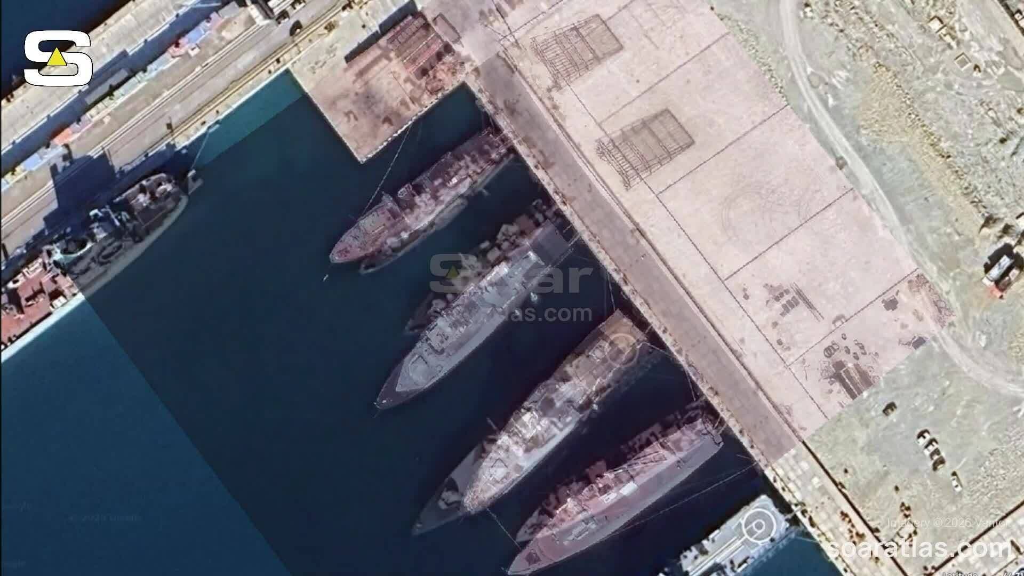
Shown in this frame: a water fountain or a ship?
ship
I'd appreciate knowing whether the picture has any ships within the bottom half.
Yes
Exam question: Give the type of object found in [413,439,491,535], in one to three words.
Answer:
boat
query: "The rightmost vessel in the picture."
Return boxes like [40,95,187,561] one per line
[658,494,791,576]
